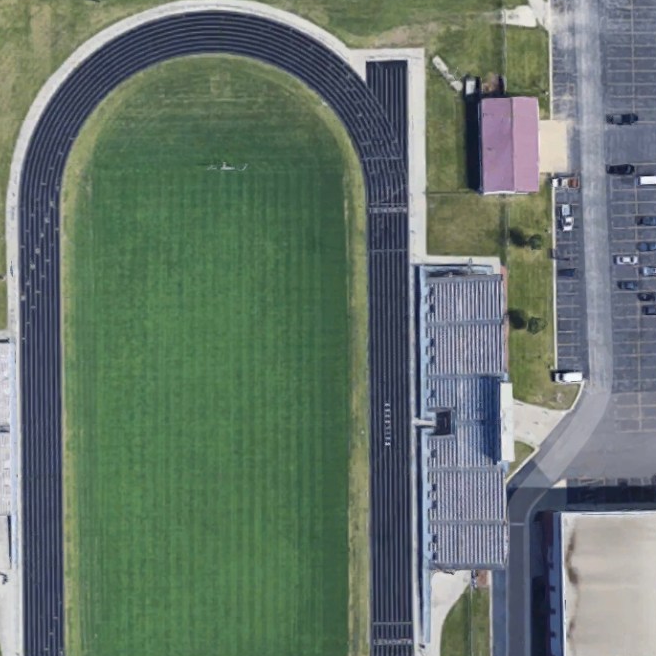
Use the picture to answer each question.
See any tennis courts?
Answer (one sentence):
No, the frame has no tennis court in it.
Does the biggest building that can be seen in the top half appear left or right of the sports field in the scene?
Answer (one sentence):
Compared with the sports field, the biggest building that can be seen in the top half is located further to the right.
